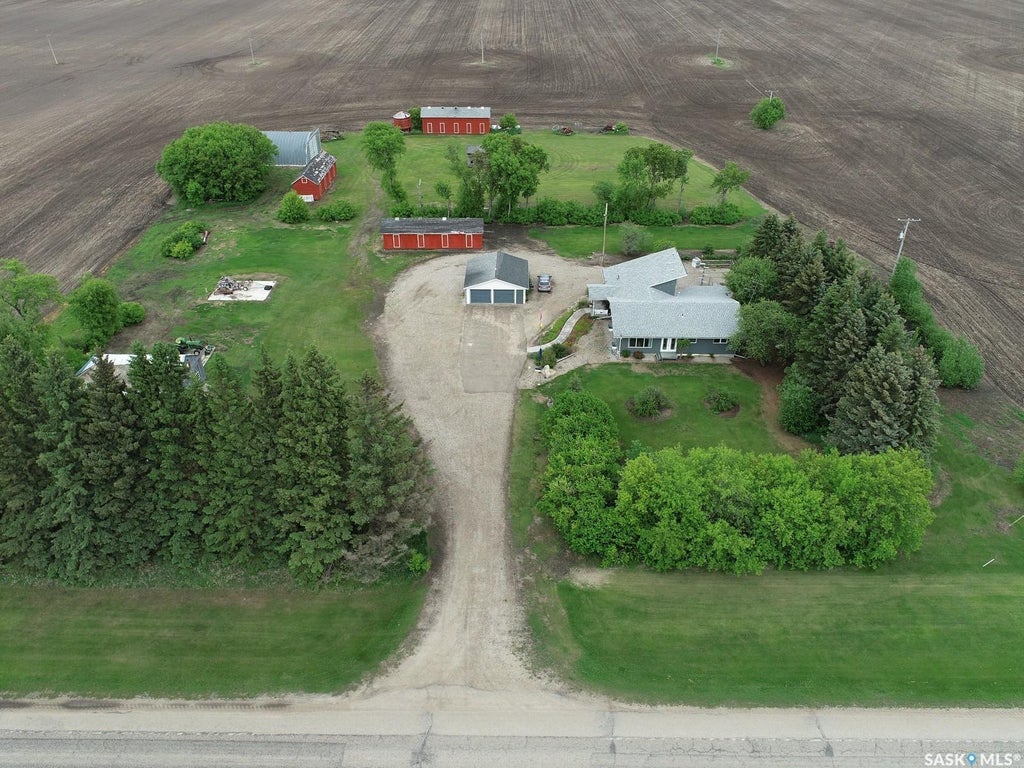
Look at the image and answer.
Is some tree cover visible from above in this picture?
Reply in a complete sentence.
Yes, tree cover shows up in the scene.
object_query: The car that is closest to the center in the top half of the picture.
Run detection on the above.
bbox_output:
[536,273,551,288]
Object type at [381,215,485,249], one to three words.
shed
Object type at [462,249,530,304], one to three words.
building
